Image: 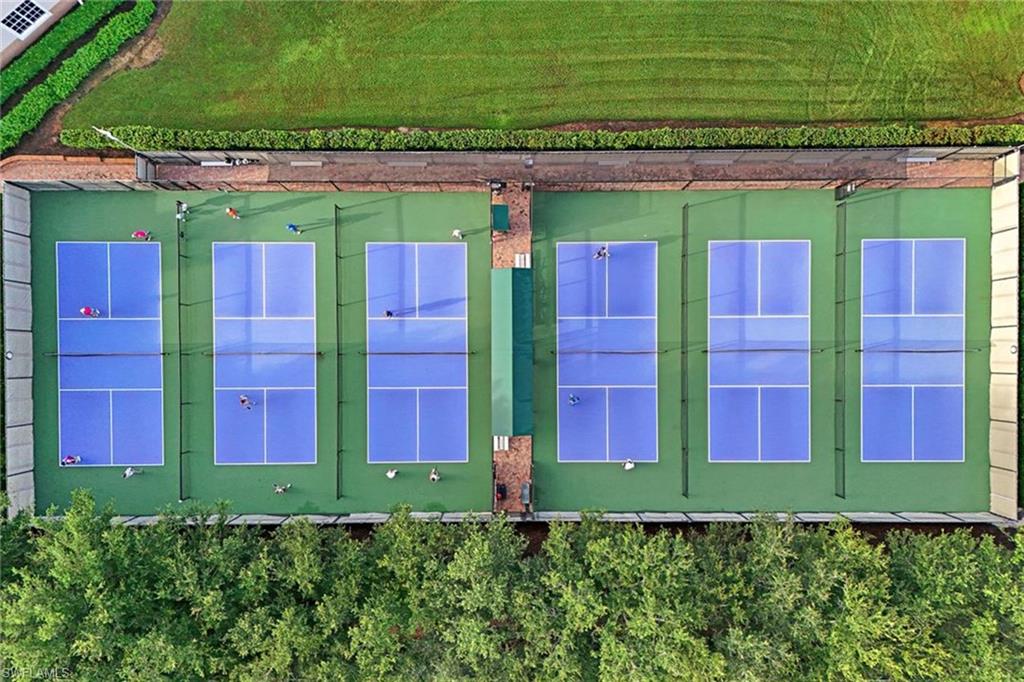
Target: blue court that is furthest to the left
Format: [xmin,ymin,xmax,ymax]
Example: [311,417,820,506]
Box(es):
[57,242,163,466]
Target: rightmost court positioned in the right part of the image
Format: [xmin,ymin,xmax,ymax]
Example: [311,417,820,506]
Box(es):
[862,239,965,462]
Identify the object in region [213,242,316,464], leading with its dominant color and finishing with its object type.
blue sports court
